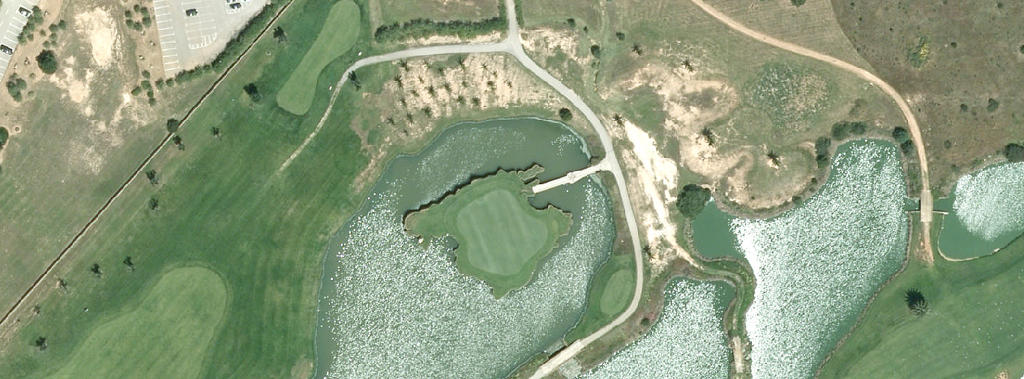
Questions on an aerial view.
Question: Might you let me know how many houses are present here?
zero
